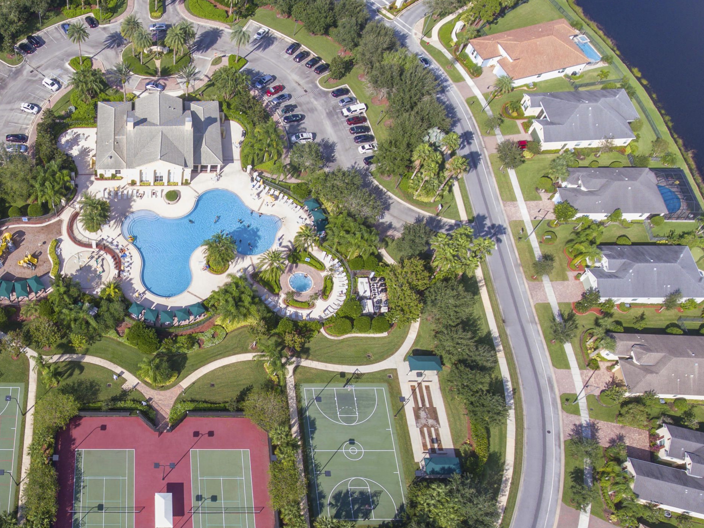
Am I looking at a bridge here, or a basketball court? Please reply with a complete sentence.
Of the two, only a basketball court appears.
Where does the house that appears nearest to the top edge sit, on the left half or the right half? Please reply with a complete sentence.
You can find the house that appears nearest to the top edge on the right side of the picture.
